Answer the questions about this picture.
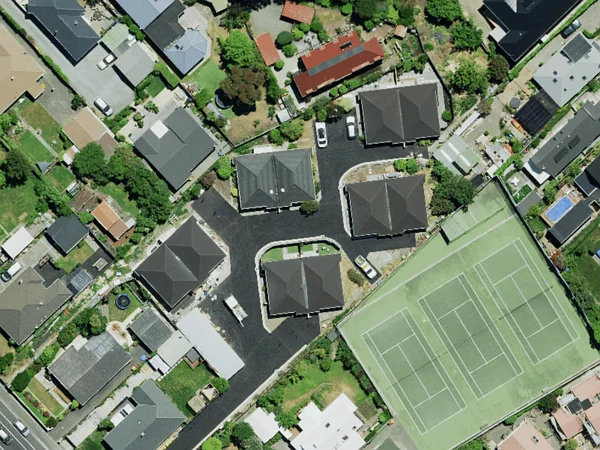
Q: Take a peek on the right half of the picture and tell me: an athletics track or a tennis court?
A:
tennis court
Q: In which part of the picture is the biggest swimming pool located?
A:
right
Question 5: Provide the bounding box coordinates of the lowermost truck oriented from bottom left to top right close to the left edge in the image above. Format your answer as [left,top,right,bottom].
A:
[0,260,23,282]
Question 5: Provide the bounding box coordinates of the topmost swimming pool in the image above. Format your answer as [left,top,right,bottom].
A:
[544,195,575,223]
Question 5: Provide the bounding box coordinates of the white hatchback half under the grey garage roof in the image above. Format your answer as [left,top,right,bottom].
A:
[96,52,117,70]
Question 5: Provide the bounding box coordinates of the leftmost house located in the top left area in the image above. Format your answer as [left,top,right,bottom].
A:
[0,23,46,116]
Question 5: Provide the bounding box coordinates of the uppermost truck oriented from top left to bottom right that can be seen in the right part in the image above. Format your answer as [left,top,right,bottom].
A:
[354,254,378,278]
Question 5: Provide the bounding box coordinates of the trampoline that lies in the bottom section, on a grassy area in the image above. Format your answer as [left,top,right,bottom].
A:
[115,293,131,309]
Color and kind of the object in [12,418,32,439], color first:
white car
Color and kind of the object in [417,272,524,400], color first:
green tennis court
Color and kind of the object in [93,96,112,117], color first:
white car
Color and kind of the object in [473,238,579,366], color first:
green tennis court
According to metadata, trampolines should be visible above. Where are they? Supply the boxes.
[115,293,131,309]
[212,93,231,110]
